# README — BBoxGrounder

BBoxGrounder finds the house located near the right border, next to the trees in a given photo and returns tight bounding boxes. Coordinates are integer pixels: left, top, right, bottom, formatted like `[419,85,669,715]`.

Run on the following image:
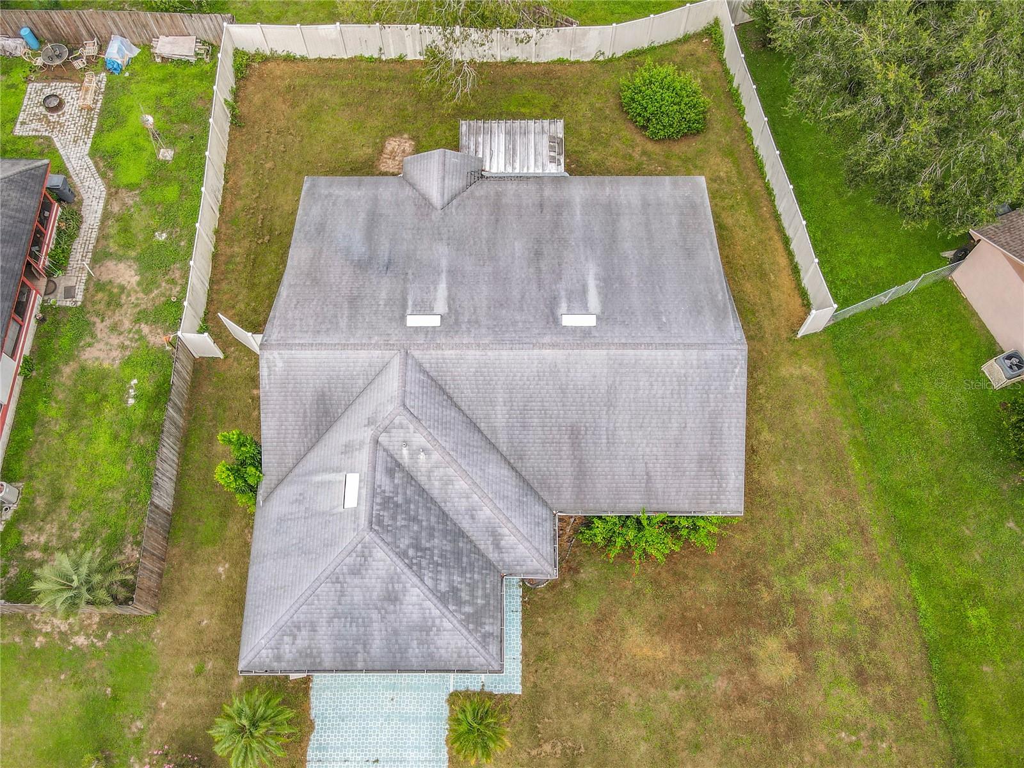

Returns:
[948,211,1024,359]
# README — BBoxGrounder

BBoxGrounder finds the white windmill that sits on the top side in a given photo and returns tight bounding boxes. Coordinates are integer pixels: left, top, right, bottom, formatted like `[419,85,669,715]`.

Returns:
[143,112,172,159]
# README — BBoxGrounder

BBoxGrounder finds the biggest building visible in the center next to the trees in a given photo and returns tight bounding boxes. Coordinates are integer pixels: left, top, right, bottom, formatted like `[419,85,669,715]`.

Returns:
[239,146,746,674]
